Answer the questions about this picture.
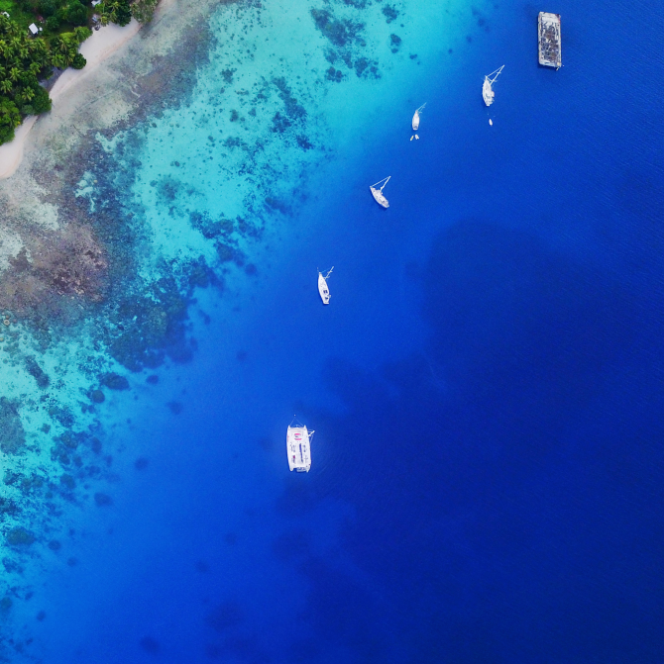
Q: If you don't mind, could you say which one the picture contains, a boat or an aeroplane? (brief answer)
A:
boat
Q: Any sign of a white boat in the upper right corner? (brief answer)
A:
Yes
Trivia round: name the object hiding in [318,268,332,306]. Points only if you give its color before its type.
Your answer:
white boat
